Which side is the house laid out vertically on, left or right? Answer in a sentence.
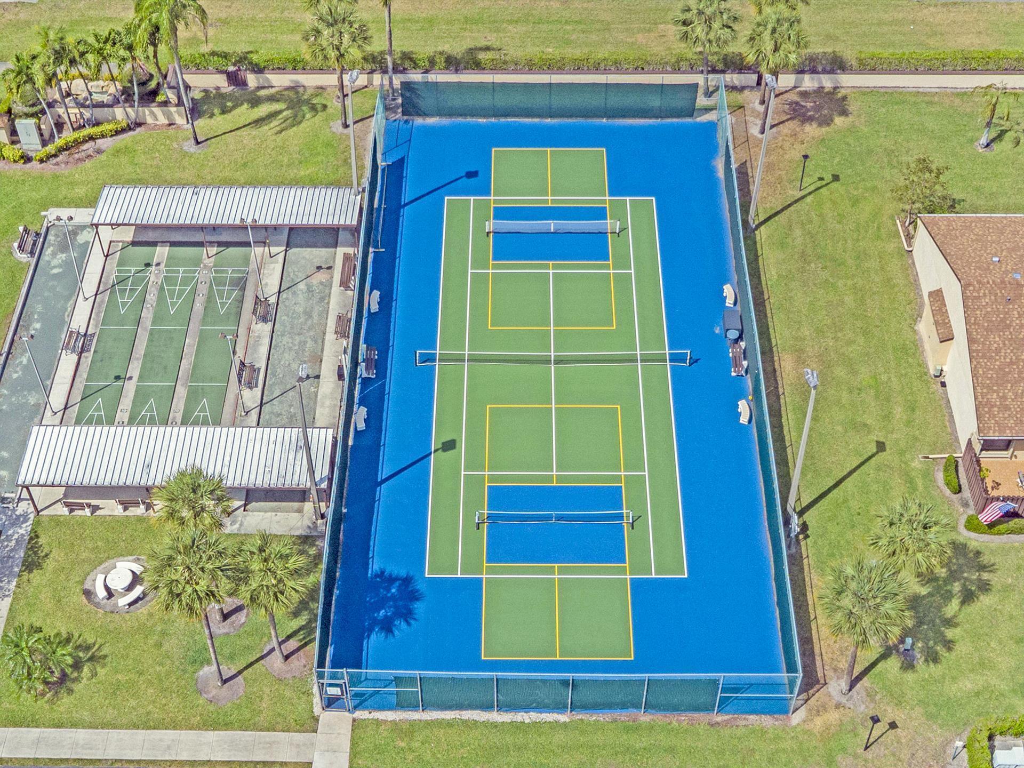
It is on the right.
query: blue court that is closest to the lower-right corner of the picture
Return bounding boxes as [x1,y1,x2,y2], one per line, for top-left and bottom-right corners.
[329,119,790,715]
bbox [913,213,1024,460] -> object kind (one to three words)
house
